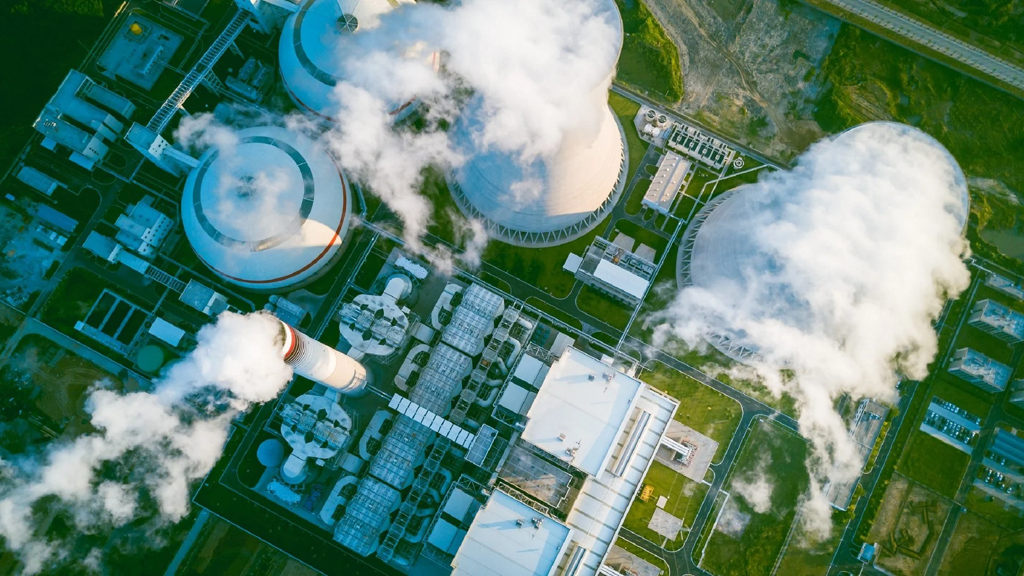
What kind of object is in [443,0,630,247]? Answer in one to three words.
cooling tower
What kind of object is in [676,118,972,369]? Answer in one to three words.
cooling tower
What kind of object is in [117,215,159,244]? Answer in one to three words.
house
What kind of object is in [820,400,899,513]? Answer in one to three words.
building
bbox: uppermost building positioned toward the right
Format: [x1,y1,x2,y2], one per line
[640,151,692,218]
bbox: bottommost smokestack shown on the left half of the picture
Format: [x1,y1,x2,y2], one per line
[243,315,378,404]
